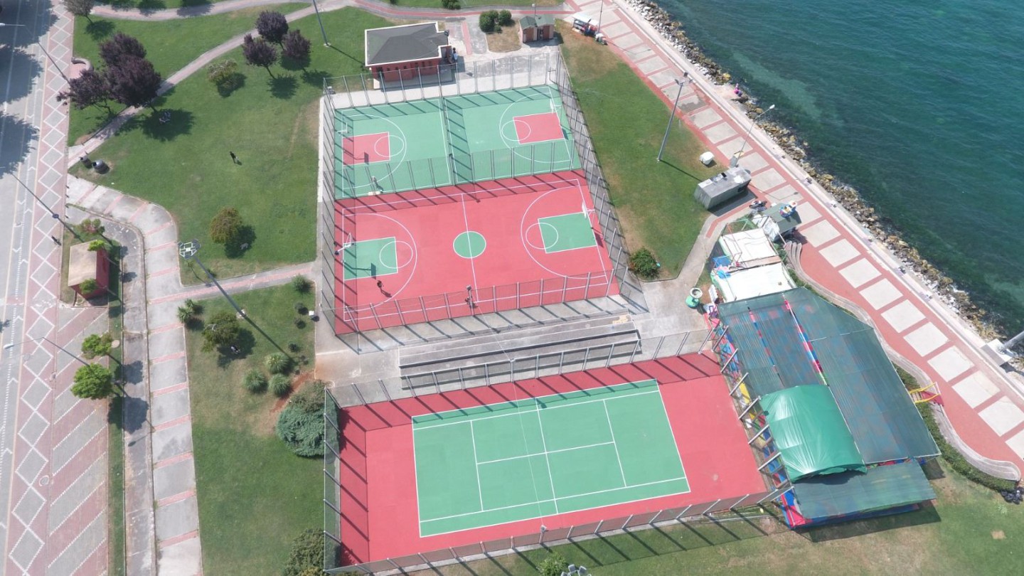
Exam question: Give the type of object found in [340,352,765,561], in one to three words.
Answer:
tennis court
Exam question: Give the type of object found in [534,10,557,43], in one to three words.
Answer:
building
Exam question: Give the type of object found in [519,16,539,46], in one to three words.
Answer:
building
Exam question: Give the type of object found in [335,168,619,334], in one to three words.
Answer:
basketball court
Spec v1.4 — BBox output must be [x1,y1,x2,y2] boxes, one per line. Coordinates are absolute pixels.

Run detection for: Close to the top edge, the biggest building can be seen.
[364,20,452,89]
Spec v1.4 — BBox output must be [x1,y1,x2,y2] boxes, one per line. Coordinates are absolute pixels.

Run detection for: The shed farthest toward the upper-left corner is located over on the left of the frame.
[68,239,110,297]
